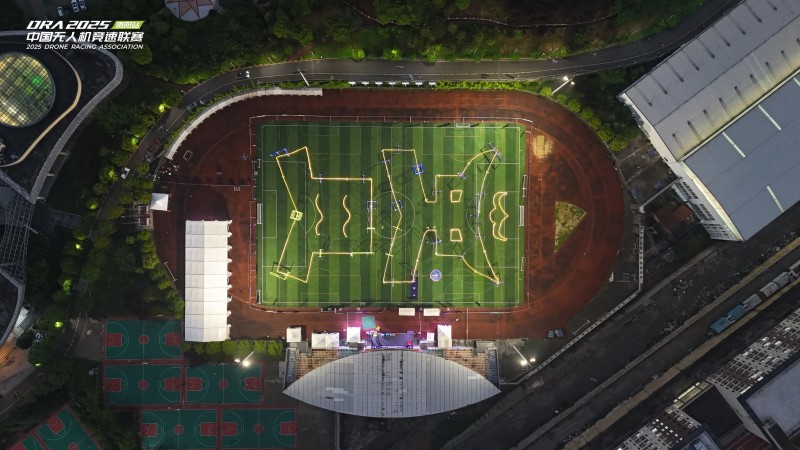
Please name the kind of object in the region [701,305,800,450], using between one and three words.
building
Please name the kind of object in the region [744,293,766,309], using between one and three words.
rail car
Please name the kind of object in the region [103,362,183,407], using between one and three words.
basketball court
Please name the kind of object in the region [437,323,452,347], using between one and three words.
tent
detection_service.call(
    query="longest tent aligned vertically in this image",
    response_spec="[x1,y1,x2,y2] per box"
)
[185,219,232,343]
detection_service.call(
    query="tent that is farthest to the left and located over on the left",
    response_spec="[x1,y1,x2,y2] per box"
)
[151,193,169,210]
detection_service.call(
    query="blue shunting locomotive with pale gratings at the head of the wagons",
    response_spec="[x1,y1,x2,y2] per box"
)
[711,304,748,334]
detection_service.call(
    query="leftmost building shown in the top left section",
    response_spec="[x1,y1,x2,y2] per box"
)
[0,29,136,205]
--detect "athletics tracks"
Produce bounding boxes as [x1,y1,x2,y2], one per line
[156,89,626,340]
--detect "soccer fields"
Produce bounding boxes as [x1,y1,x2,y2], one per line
[257,122,526,307]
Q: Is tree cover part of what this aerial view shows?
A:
Yes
